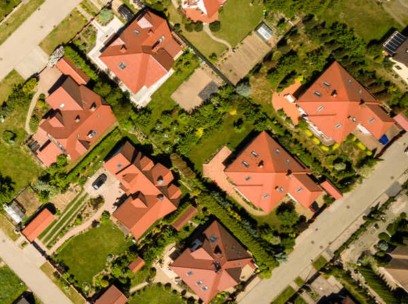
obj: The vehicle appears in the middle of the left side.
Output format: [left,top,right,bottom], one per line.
[88,170,110,193]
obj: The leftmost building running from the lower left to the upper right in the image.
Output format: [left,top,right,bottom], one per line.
[21,208,55,242]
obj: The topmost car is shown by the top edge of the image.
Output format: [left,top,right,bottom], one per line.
[115,0,137,24]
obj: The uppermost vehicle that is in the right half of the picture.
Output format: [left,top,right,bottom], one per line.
[372,134,393,148]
